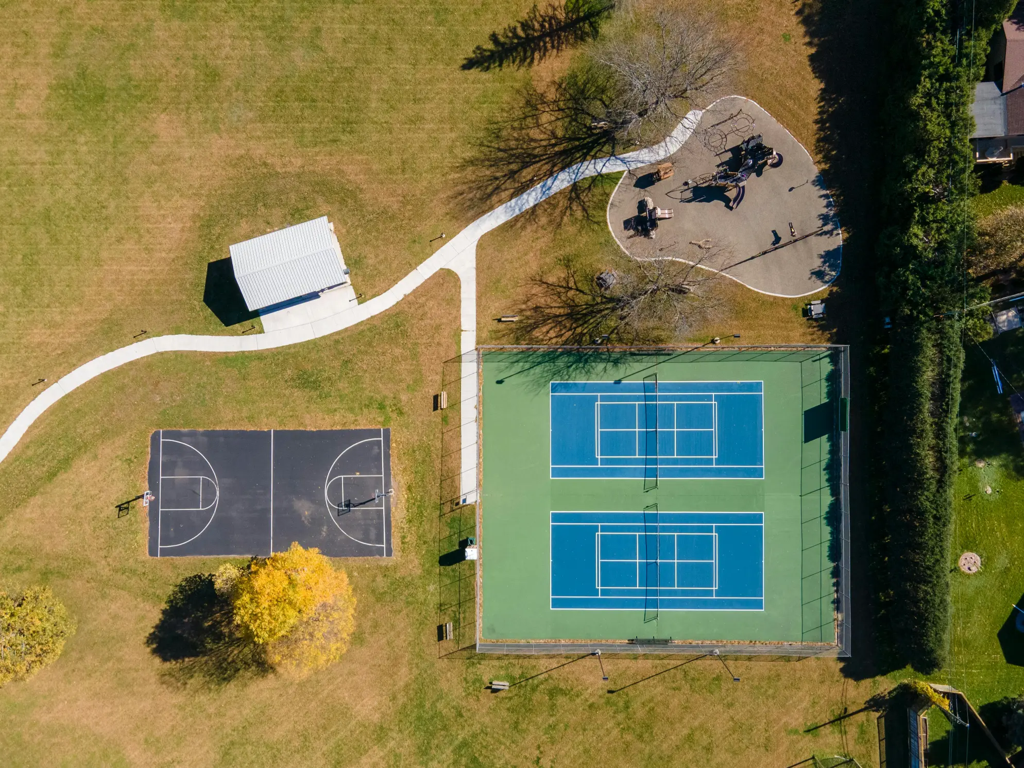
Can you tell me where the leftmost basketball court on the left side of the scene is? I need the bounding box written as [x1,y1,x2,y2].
[148,428,393,557]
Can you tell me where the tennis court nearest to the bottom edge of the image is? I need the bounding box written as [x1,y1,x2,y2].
[482,495,835,642]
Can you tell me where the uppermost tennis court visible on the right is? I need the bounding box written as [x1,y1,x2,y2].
[482,350,832,495]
